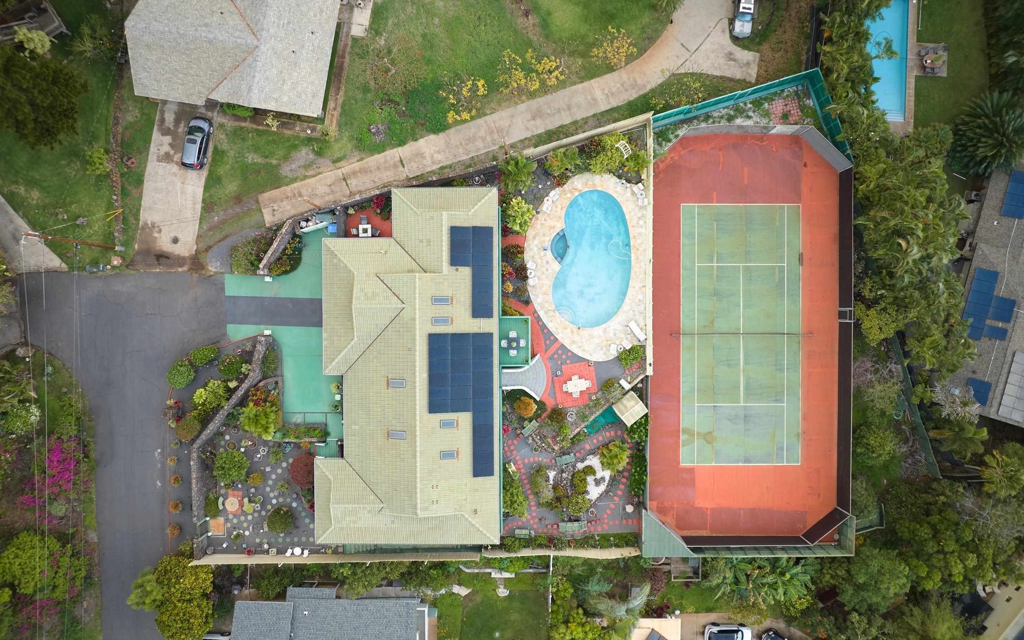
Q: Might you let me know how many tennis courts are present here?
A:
1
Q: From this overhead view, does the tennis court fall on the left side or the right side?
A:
right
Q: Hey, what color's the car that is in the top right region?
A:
white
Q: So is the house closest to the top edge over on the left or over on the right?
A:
left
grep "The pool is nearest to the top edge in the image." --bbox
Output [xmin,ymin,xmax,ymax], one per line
[855,0,917,131]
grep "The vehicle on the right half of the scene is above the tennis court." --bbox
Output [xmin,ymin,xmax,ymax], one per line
[732,0,761,33]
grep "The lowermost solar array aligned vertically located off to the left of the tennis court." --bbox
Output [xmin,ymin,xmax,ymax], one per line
[429,332,493,478]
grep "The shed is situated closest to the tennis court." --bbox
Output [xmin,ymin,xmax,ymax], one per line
[643,511,691,556]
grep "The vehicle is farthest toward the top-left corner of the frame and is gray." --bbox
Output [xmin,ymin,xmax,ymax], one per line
[178,116,209,169]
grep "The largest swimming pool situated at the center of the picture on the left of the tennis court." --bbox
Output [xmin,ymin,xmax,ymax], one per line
[524,174,646,361]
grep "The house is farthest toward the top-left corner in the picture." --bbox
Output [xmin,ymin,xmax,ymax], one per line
[122,0,341,118]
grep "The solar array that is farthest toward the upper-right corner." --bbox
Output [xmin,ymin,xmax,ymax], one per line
[1001,170,1024,219]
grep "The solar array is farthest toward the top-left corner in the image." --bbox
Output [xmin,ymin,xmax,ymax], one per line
[451,226,493,318]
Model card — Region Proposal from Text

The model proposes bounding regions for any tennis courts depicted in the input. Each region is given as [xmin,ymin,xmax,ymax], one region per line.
[646,132,839,544]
